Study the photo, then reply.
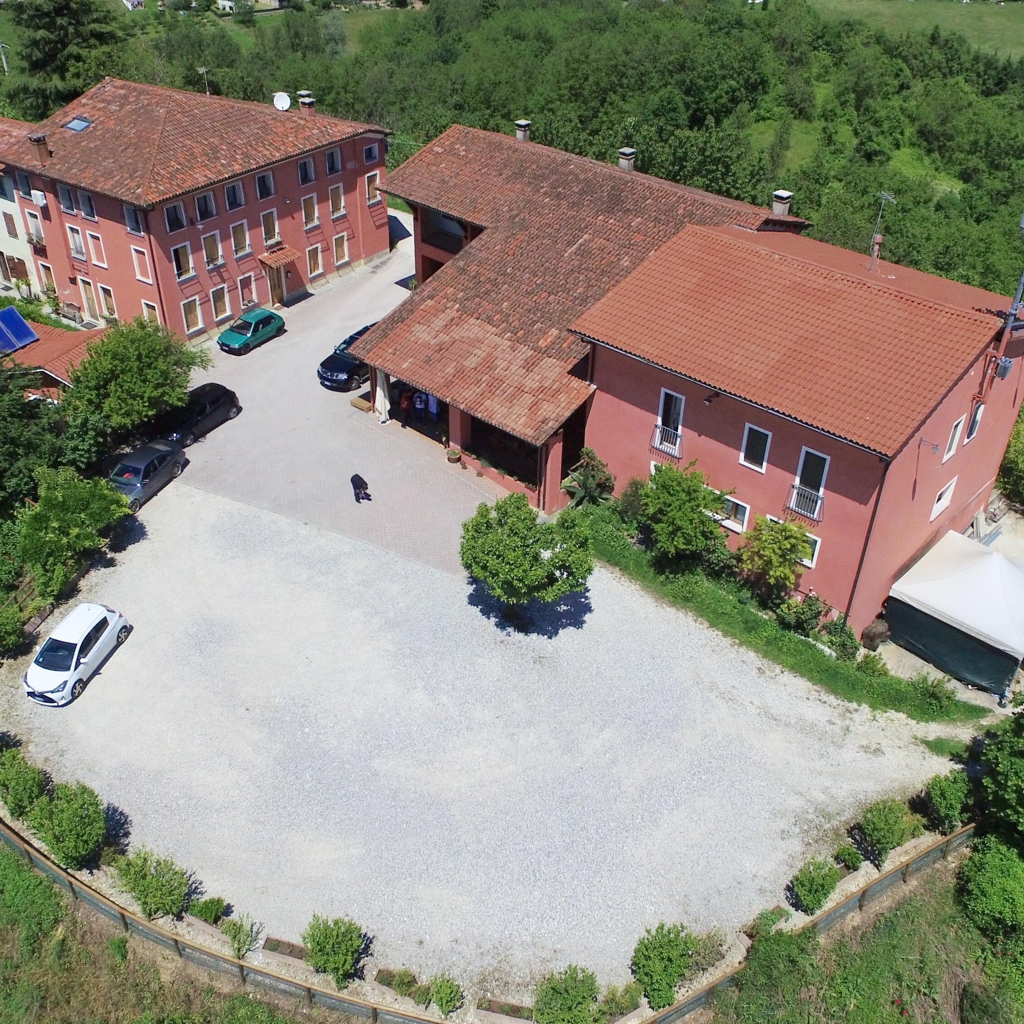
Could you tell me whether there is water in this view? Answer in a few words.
No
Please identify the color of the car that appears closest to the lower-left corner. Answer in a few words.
white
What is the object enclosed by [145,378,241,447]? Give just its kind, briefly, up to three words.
car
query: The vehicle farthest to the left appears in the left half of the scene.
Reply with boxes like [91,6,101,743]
[16,599,125,706]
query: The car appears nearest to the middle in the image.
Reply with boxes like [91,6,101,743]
[313,316,380,387]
